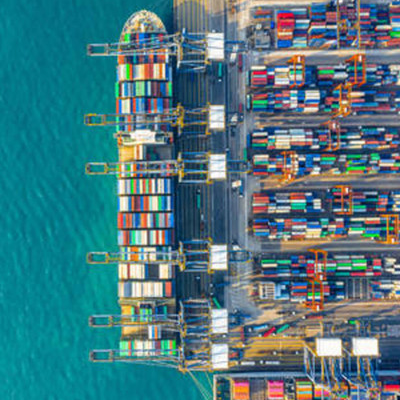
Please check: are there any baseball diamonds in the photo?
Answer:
No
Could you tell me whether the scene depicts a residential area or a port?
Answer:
port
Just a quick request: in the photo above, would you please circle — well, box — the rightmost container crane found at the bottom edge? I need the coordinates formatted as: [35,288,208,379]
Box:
[330,314,384,400]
